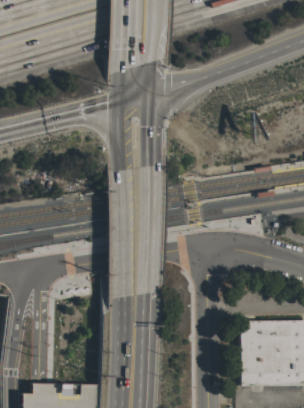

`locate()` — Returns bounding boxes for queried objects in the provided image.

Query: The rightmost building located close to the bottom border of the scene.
[242,320,304,392]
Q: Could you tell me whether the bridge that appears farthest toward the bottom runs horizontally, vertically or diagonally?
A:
vertically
